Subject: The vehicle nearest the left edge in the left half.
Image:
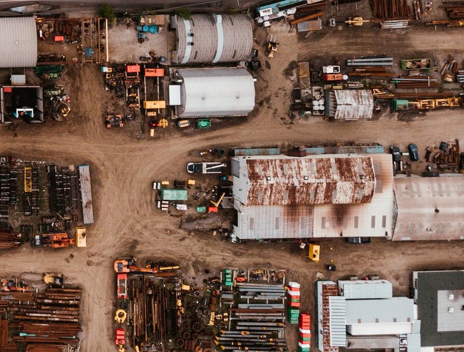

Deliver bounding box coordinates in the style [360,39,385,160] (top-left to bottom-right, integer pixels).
[0,276,32,291]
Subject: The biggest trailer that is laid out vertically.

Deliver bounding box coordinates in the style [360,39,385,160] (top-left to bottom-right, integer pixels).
[78,163,94,224]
